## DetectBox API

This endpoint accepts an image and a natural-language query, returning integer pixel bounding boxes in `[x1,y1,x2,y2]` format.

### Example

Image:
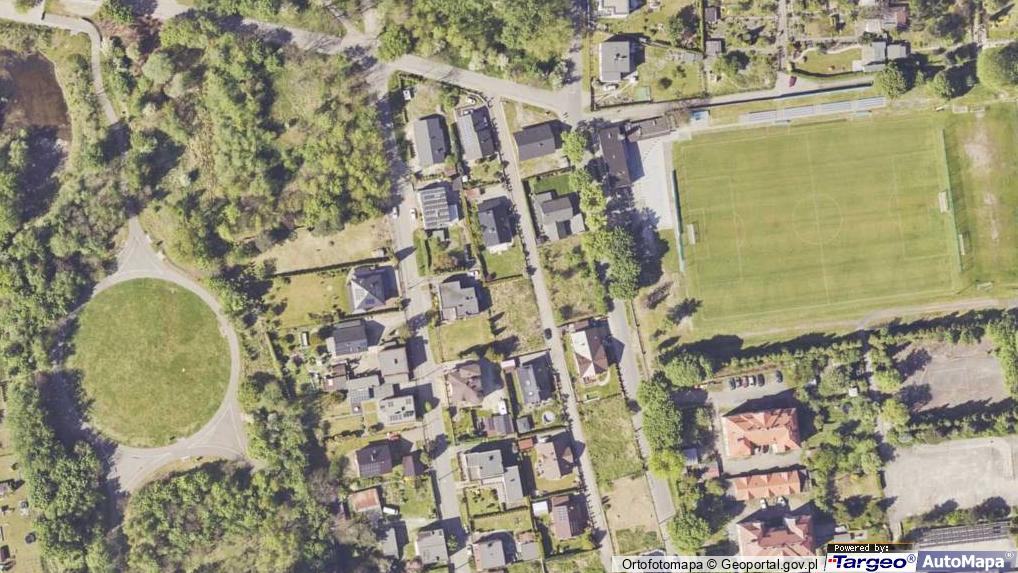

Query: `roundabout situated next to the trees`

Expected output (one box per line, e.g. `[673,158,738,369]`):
[58,214,249,495]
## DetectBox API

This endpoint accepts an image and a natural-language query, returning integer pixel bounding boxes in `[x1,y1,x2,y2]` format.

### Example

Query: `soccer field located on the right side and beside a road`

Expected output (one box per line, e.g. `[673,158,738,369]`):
[677,115,958,325]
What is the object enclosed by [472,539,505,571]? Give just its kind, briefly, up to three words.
house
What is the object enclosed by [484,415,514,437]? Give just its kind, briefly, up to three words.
shed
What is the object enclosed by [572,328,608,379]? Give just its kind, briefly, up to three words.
house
